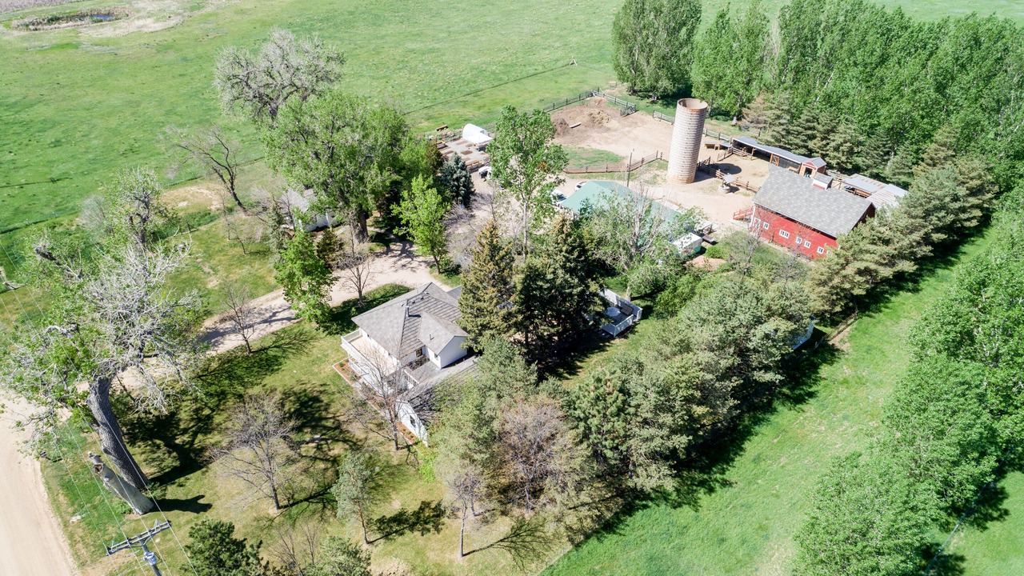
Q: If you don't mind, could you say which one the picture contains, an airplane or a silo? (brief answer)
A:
silo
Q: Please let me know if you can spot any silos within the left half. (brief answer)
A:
No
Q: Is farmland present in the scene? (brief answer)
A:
Yes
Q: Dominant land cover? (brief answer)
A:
trees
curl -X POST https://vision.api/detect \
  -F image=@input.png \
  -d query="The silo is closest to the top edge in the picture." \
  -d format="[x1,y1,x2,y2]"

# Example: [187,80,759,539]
[667,96,709,184]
